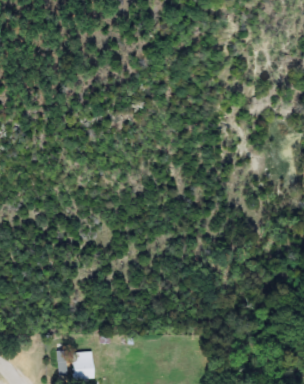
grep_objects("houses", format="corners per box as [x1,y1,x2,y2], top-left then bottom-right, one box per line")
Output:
[56,352,70,375]
[72,352,94,379]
